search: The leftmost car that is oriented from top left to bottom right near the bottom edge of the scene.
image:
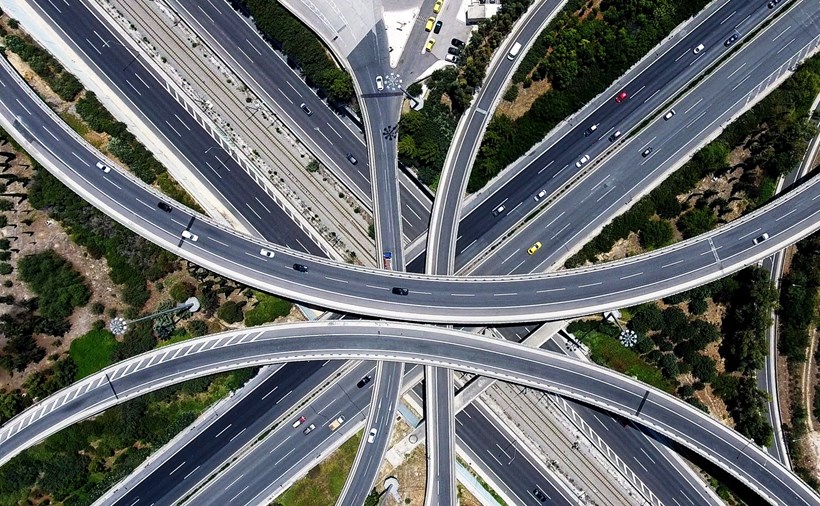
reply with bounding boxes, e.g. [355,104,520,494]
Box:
[533,488,547,502]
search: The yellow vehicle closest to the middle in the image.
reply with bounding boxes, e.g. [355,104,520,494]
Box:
[527,241,541,255]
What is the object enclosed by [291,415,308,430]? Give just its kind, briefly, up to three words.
vehicle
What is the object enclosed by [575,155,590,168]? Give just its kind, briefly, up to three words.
vehicle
